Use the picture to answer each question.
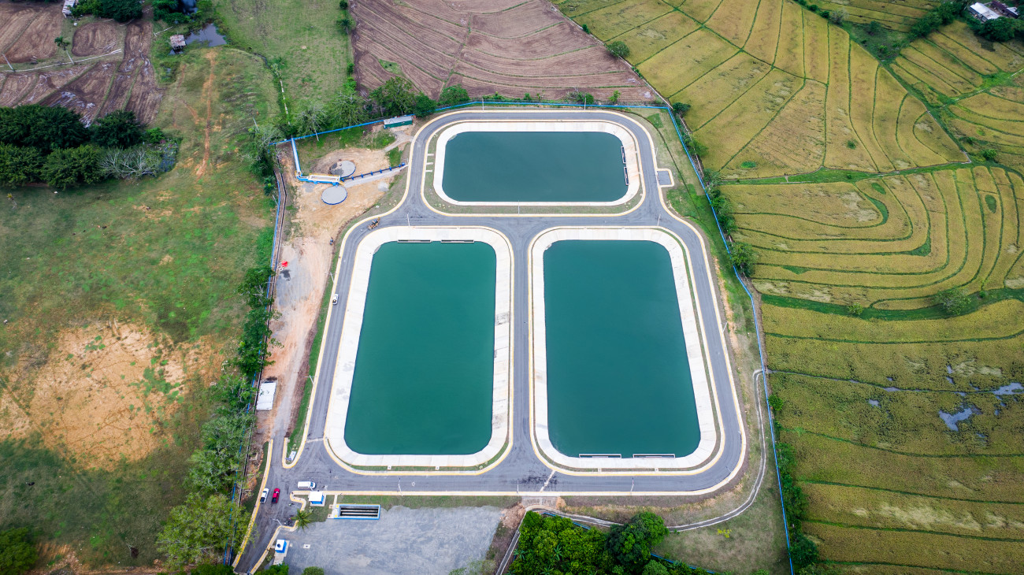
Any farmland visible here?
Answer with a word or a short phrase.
Yes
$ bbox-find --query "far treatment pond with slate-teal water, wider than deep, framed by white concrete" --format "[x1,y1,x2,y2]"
[433,122,639,206]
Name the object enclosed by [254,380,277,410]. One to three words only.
building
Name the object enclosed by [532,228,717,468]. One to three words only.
pond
